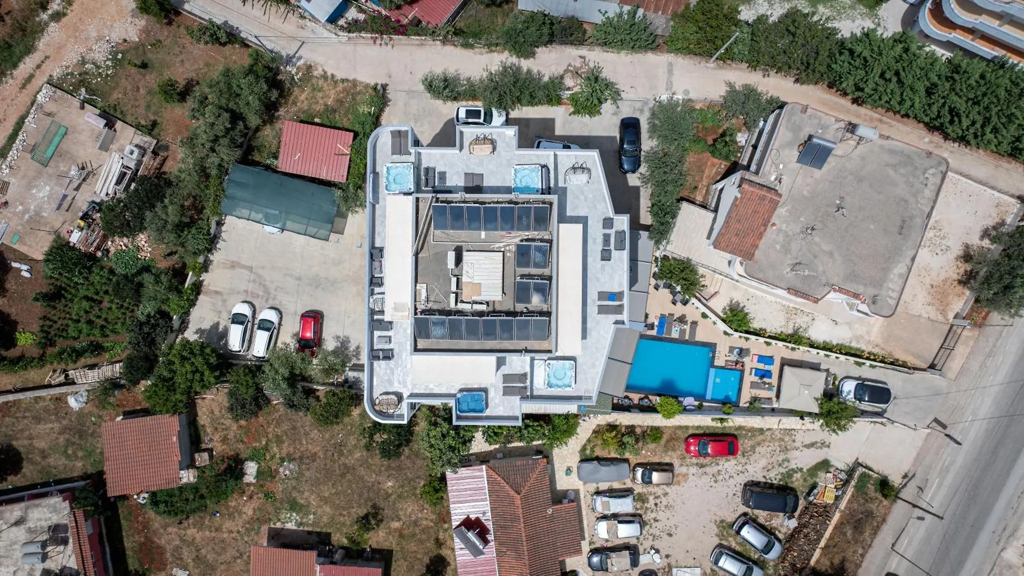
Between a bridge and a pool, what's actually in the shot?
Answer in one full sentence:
Of the two, only a pool appears.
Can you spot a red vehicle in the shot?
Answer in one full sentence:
Yes, there's a red vehicle down there.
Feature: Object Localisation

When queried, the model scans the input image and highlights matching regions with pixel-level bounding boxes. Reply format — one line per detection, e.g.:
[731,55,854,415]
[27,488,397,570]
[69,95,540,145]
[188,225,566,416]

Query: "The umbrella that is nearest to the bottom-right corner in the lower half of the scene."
[779,366,826,412]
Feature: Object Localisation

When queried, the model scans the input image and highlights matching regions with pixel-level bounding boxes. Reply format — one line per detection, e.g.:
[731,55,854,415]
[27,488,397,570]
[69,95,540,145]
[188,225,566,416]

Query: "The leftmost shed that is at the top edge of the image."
[299,0,347,29]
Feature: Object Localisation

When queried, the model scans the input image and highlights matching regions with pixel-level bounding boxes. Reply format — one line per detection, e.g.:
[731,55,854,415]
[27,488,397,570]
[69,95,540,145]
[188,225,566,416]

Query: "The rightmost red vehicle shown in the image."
[683,434,739,460]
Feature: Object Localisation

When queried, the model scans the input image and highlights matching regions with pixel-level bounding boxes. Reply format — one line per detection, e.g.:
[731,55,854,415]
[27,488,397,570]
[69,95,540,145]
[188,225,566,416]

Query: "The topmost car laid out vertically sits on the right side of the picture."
[617,117,644,174]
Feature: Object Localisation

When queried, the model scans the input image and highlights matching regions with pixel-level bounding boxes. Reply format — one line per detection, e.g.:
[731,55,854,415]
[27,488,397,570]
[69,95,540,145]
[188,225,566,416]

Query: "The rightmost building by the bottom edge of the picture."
[447,454,583,576]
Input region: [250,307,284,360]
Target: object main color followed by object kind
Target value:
white car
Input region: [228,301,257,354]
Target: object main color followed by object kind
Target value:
white car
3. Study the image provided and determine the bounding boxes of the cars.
[884,0,926,15]
[617,117,644,174]
[228,301,257,354]
[710,541,764,576]
[453,105,508,127]
[836,379,892,408]
[261,225,284,237]
[250,307,284,360]
[632,462,675,487]
[595,515,644,542]
[530,135,581,149]
[683,434,739,460]
[730,513,782,557]
[592,489,636,515]
[296,310,322,356]
[741,482,798,514]
[587,544,639,573]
